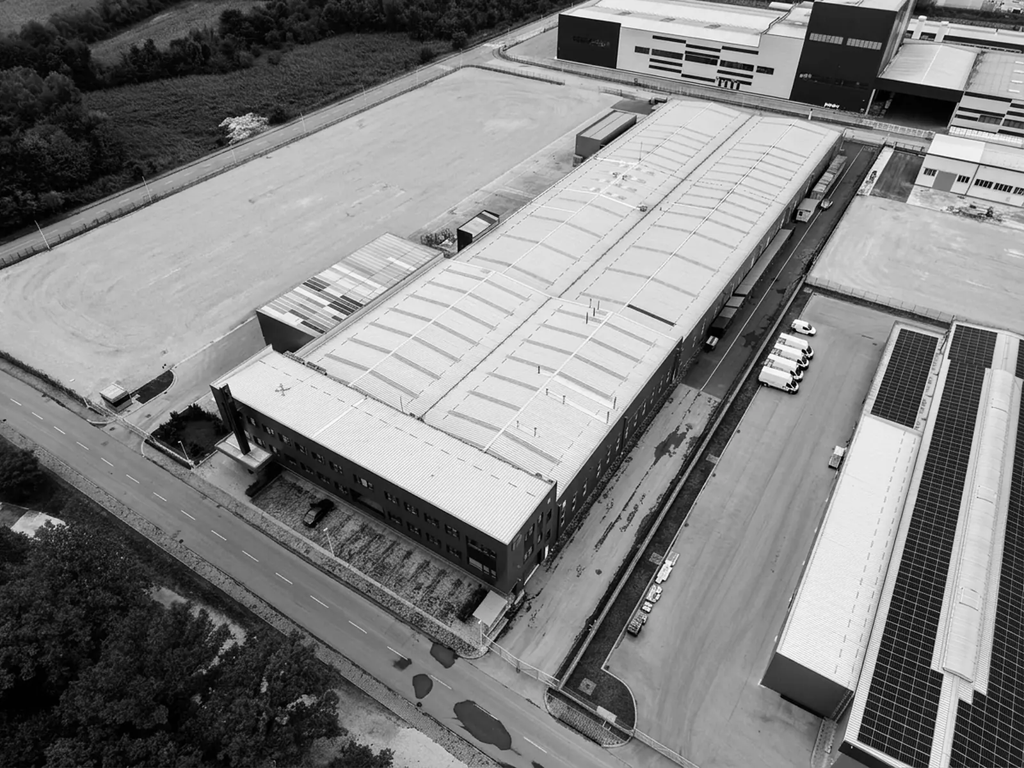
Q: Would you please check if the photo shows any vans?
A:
Yes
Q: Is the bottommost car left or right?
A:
left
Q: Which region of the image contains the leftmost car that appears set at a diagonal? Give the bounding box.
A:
[298,497,333,526]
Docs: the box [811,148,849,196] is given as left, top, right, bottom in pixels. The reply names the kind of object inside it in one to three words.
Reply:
trailer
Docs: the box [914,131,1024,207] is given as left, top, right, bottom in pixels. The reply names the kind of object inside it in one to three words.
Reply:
building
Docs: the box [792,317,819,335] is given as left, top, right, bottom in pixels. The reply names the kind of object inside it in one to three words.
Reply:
vehicle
